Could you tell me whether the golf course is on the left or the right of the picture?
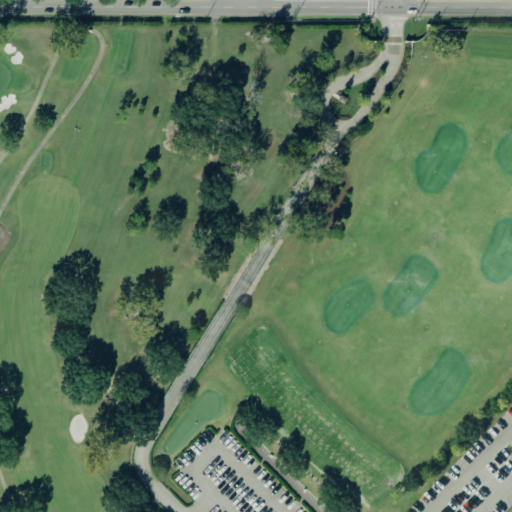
left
